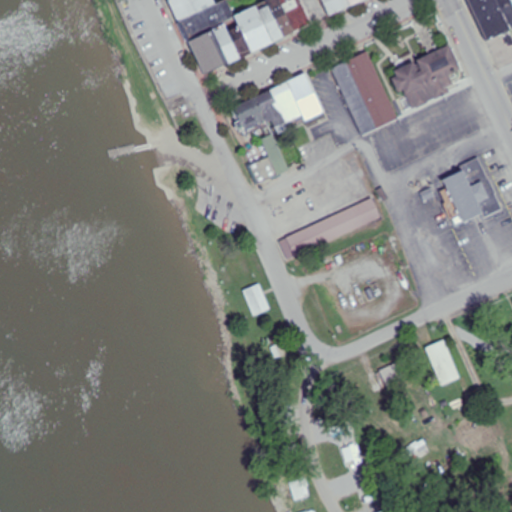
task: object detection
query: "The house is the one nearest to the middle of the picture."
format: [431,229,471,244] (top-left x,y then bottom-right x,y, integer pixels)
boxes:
[242,283,270,316]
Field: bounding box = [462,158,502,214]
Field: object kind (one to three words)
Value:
building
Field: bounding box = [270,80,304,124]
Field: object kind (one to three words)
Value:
house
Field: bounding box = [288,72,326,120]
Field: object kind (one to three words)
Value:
house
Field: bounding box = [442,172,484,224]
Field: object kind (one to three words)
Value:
building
